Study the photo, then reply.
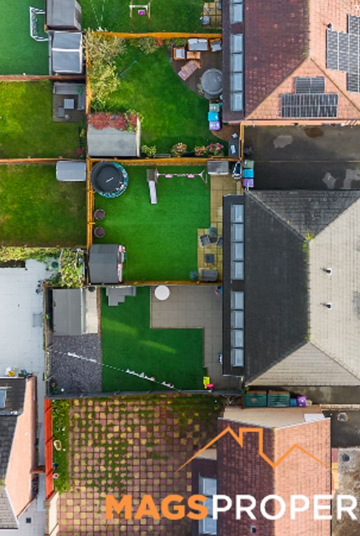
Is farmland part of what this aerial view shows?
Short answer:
No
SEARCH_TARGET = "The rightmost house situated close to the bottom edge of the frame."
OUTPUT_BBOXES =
[190,403,333,536]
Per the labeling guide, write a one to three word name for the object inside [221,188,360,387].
house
